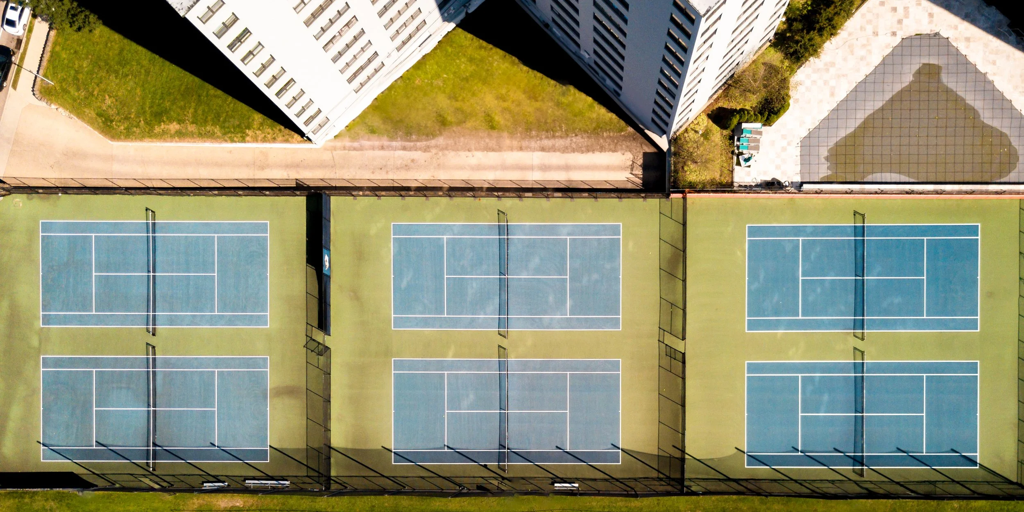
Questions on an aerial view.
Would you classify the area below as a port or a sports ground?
sports ground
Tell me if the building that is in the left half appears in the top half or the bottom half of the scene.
top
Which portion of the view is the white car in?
top left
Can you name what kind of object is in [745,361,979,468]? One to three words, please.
tennis court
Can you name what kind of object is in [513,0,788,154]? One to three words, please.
building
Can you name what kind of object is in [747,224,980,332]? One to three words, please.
tennis court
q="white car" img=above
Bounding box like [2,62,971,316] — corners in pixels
[4,0,29,36]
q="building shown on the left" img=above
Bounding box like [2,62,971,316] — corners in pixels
[165,0,479,148]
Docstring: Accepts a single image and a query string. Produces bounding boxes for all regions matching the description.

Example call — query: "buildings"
[165,0,479,148]
[513,0,788,154]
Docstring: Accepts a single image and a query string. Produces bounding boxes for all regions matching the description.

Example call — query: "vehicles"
[0,46,13,91]
[4,0,29,36]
